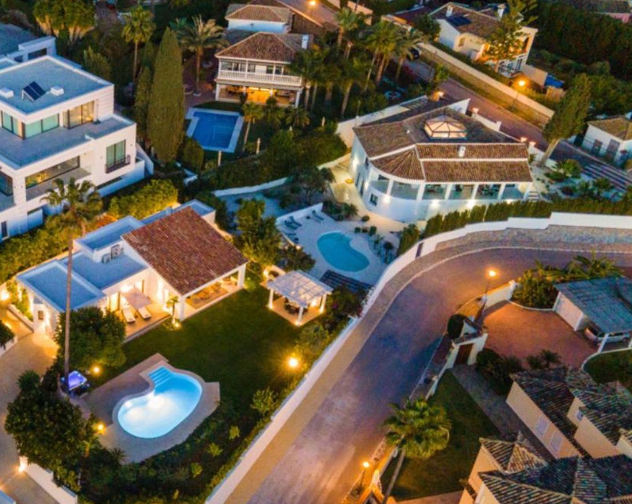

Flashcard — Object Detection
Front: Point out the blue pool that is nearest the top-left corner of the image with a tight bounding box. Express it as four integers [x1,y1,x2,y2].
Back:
[193,112,237,148]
